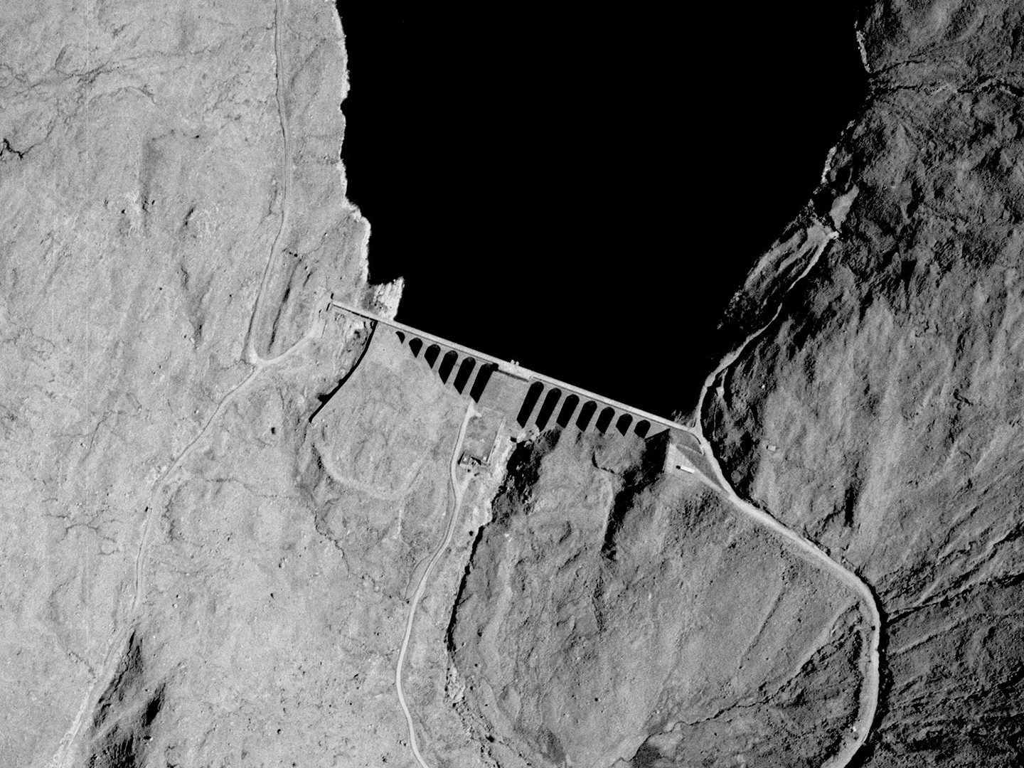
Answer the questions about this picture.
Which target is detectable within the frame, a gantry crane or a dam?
dam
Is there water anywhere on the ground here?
Yes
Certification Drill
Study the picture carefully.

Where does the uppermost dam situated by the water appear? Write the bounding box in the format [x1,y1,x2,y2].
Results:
[333,301,701,443]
